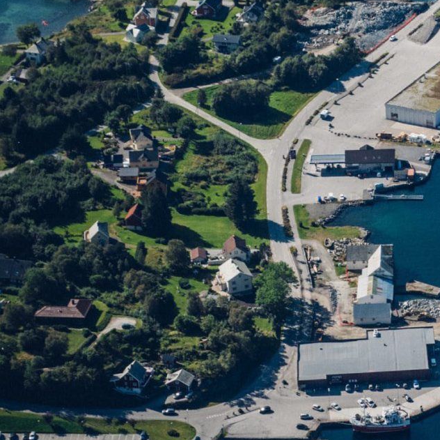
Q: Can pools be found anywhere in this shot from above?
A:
No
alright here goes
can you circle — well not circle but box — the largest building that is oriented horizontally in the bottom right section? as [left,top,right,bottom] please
[298,325,435,393]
